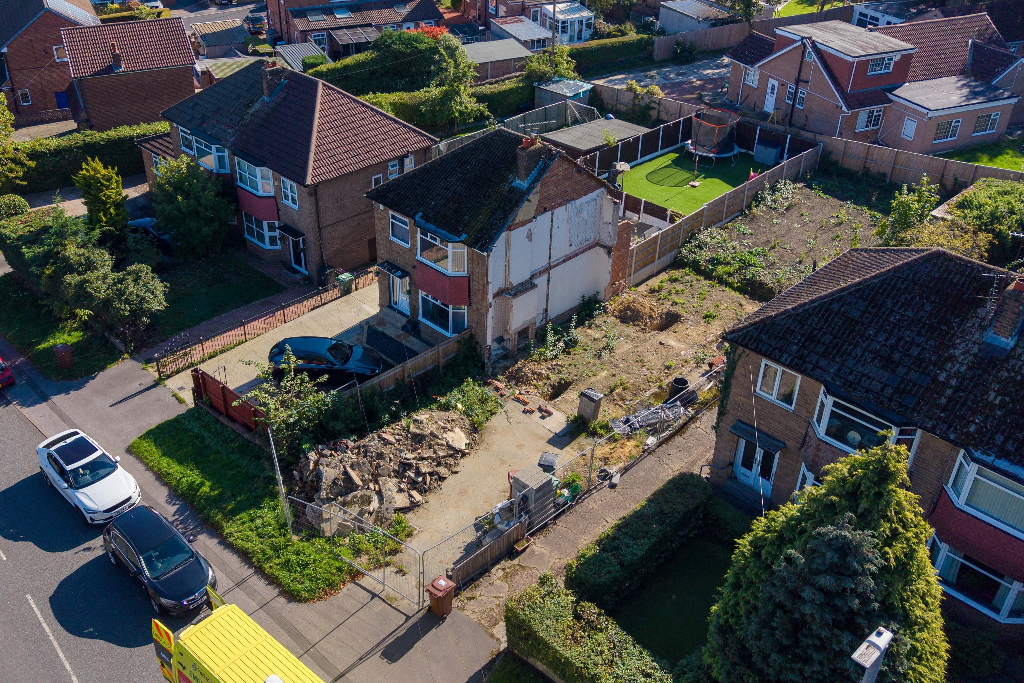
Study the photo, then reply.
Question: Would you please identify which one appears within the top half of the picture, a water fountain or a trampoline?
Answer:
trampoline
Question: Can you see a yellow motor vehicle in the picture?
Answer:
Yes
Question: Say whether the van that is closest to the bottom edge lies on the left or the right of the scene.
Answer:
left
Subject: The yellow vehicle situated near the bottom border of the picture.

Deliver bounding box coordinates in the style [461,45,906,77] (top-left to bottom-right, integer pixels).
[149,587,311,683]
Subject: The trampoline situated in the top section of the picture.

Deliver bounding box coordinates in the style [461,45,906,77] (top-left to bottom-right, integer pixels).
[686,107,742,172]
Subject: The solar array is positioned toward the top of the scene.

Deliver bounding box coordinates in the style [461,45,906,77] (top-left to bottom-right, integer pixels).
[49,0,94,24]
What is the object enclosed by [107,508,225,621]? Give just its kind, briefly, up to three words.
car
